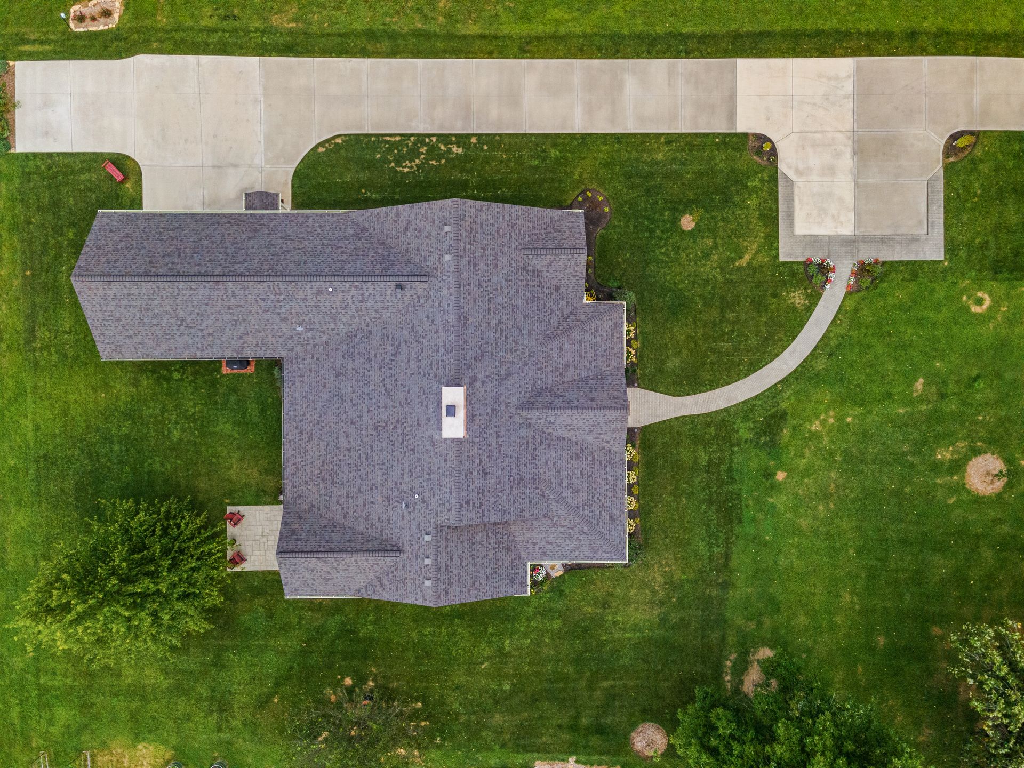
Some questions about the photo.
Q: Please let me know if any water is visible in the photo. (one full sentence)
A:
No, there is no water in the image.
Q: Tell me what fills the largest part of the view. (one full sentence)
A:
The largest share of the image is taken up by grass.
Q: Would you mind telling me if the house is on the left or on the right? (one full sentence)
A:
The house is on the left side of the image.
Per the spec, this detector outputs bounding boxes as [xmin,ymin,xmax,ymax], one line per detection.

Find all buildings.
[71,191,628,607]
